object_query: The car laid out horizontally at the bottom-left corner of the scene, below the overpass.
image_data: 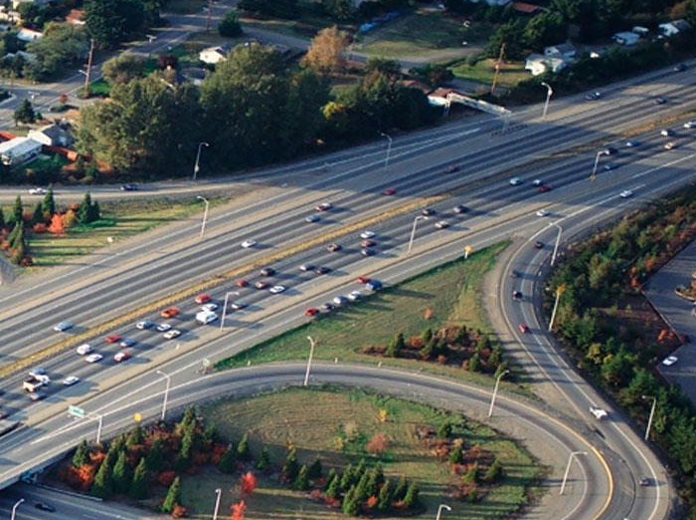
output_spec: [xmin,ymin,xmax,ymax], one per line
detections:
[33,501,56,513]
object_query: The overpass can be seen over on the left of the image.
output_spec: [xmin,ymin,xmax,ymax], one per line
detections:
[0,419,135,493]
